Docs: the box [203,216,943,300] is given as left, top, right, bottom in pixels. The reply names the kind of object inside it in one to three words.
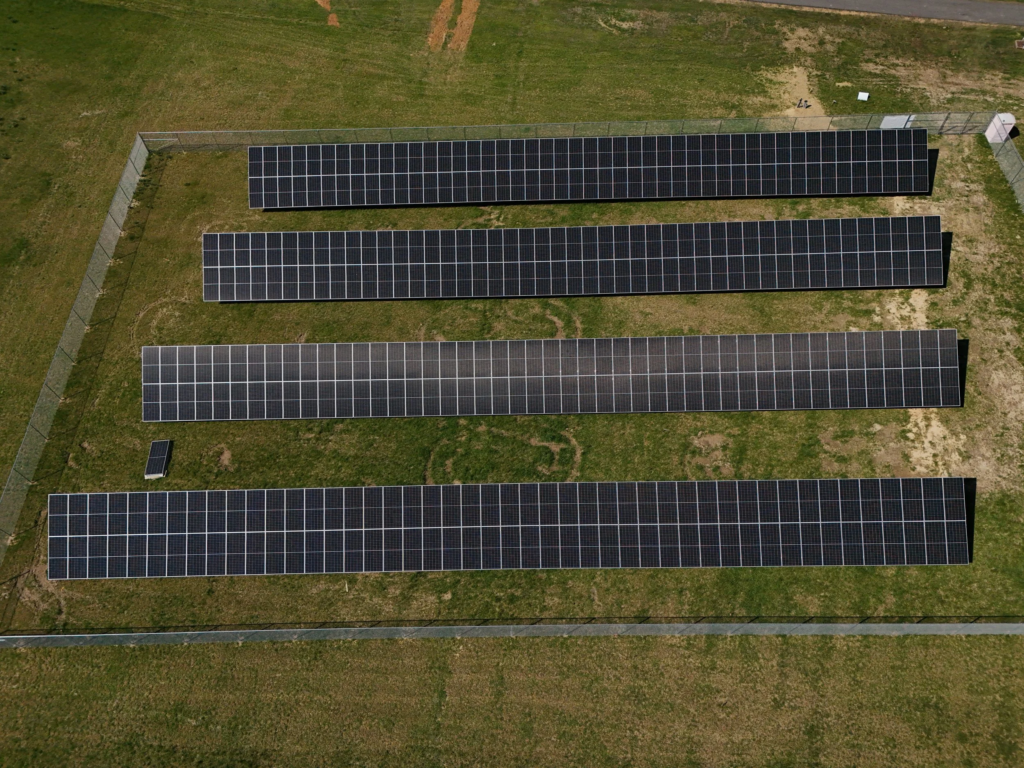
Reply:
solar array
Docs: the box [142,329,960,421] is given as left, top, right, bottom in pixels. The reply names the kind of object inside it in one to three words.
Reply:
solar array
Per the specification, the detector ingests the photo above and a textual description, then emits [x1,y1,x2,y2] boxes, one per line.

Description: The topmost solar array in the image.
[248,129,929,208]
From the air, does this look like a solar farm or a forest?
solar farm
